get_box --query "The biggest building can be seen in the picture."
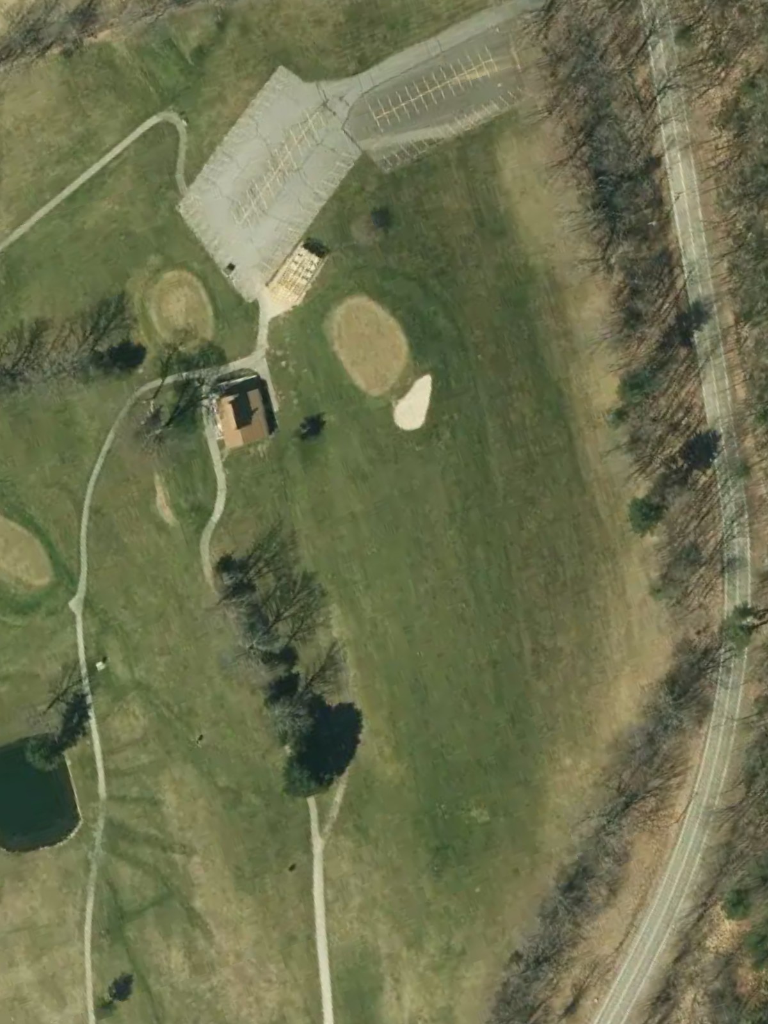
[217,385,271,447]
